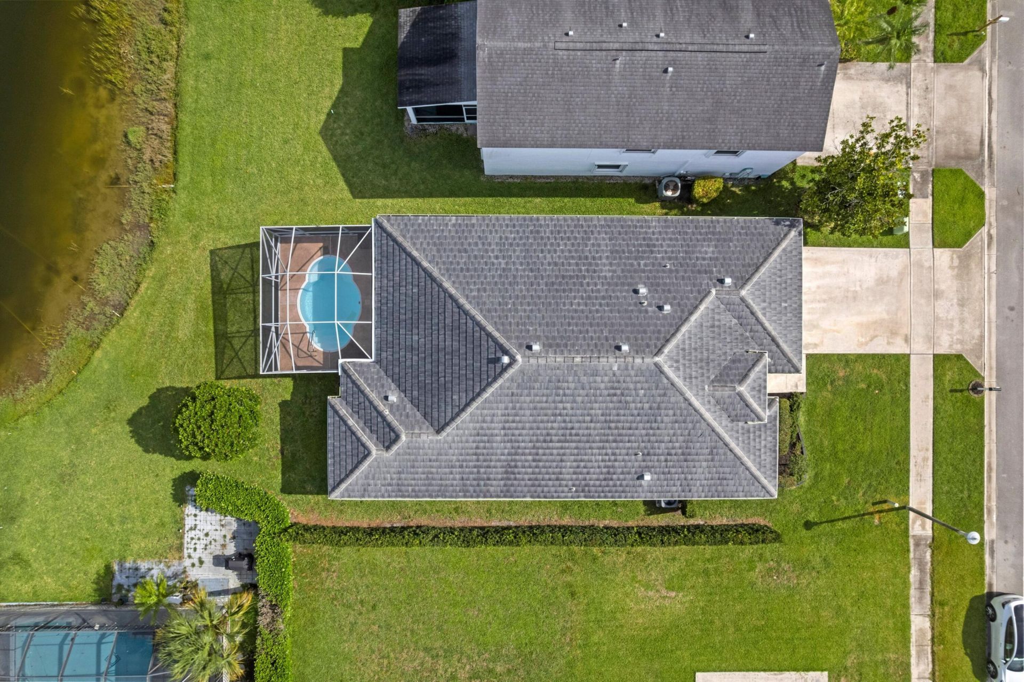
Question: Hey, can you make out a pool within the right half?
No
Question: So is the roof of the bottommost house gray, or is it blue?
gray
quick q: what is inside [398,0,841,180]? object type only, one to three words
house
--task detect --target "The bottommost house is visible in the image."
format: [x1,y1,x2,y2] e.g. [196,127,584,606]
[326,213,805,501]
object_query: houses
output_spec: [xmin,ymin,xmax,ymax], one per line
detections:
[398,0,841,180]
[326,213,805,501]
